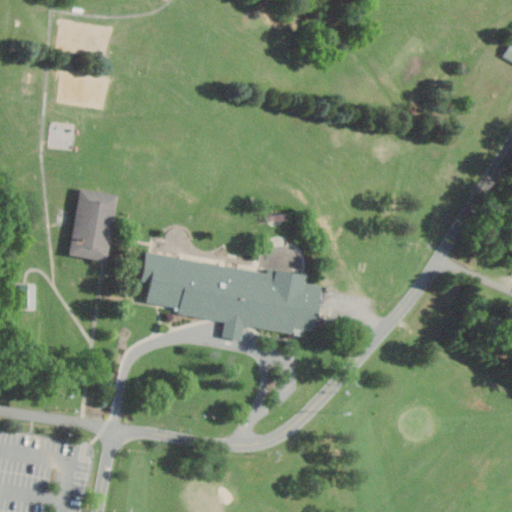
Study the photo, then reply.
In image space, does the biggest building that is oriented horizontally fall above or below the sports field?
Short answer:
above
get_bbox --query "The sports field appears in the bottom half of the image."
[188,485,234,512]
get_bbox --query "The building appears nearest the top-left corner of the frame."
[70,189,118,264]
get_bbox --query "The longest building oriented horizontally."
[142,254,321,342]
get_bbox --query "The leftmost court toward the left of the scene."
[48,122,75,151]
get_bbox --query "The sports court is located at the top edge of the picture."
[56,20,112,110]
